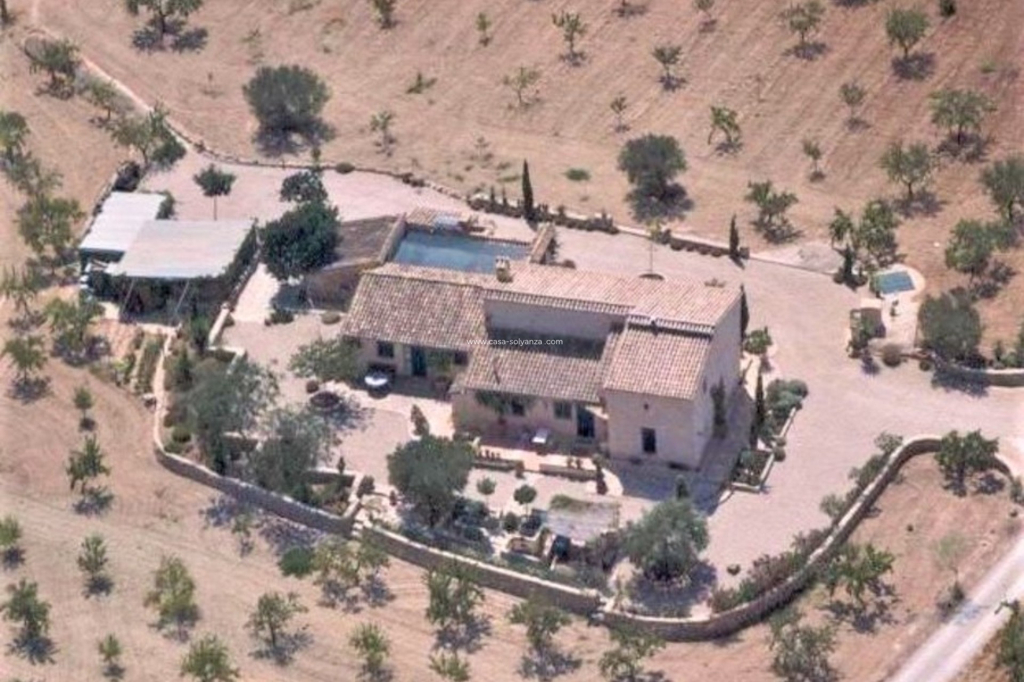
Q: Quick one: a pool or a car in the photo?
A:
pool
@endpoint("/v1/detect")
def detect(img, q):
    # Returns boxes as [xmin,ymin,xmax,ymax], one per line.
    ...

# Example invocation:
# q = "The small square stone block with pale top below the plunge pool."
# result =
[853,304,885,341]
